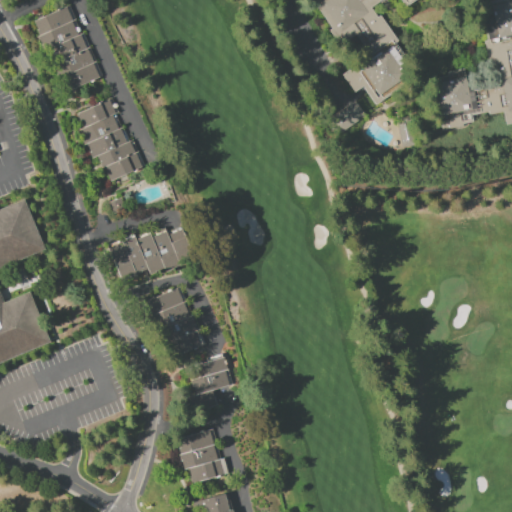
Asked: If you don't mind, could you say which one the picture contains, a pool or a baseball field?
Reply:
pool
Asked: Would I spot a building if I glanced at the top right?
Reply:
Yes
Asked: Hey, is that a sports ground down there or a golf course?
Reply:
golf course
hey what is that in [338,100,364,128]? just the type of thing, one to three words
house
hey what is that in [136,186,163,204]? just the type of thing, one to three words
swimming pool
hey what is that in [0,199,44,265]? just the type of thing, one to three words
building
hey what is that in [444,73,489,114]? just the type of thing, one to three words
house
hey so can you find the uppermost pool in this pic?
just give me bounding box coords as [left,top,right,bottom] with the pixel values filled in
[366,118,394,146]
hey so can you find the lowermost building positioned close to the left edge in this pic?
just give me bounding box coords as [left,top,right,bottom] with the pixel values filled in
[0,292,50,364]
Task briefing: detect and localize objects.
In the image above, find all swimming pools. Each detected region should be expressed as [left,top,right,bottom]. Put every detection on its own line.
[136,186,163,204]
[366,118,394,146]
